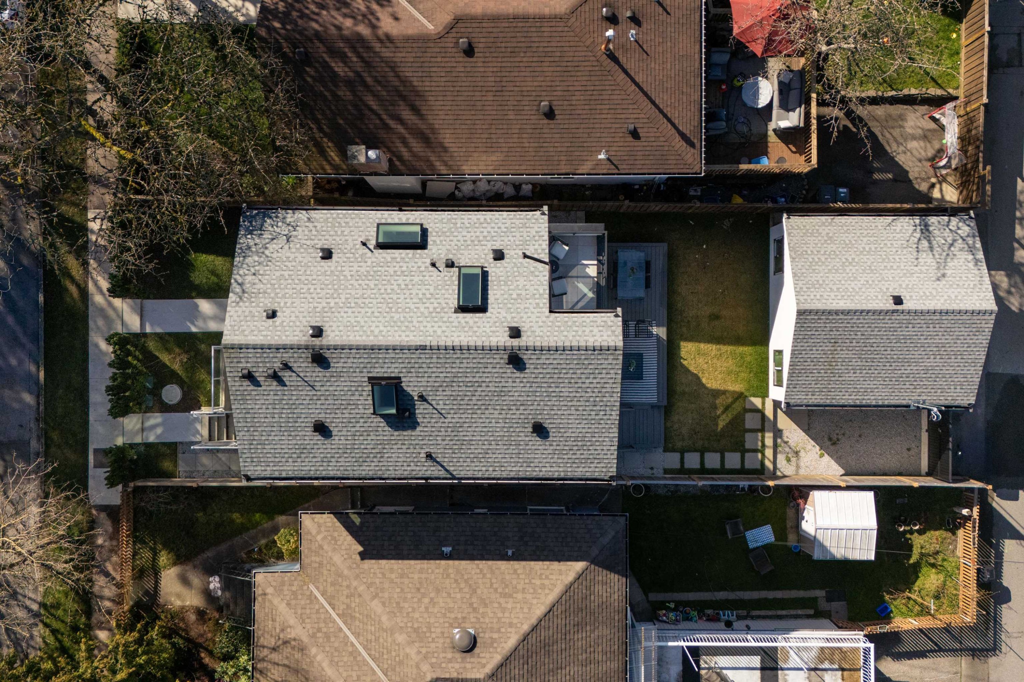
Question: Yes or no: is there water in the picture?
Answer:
No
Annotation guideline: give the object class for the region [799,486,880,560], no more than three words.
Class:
shed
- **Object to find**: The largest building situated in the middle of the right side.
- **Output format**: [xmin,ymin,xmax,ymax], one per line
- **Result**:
[767,209,994,429]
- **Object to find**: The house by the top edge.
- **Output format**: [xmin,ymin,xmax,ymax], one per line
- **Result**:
[260,0,708,201]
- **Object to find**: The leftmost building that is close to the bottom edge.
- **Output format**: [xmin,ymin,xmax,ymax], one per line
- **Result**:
[219,505,631,682]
